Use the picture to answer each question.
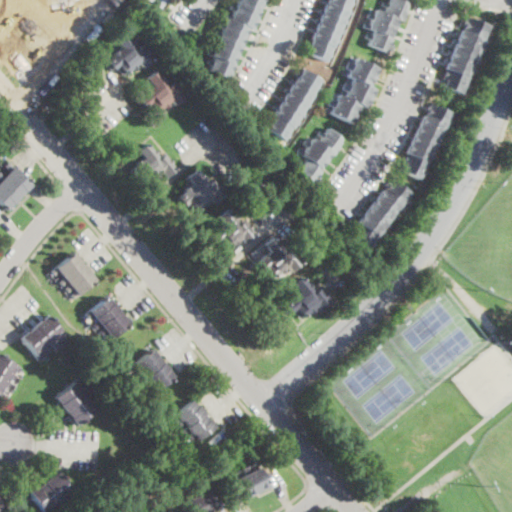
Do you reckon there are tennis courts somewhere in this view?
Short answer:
Yes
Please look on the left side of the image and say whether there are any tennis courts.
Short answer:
No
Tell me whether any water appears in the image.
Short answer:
No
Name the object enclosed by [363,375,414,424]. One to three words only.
tennis court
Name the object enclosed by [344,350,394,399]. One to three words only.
tennis court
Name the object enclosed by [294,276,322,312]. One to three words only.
house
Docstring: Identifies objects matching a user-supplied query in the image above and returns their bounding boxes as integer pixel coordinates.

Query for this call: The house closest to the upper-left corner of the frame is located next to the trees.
[112,43,144,74]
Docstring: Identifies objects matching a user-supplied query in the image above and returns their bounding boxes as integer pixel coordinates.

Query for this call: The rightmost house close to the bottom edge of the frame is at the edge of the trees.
[242,466,274,500]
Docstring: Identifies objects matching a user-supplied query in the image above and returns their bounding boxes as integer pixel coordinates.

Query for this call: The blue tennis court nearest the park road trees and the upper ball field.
[402,302,452,350]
